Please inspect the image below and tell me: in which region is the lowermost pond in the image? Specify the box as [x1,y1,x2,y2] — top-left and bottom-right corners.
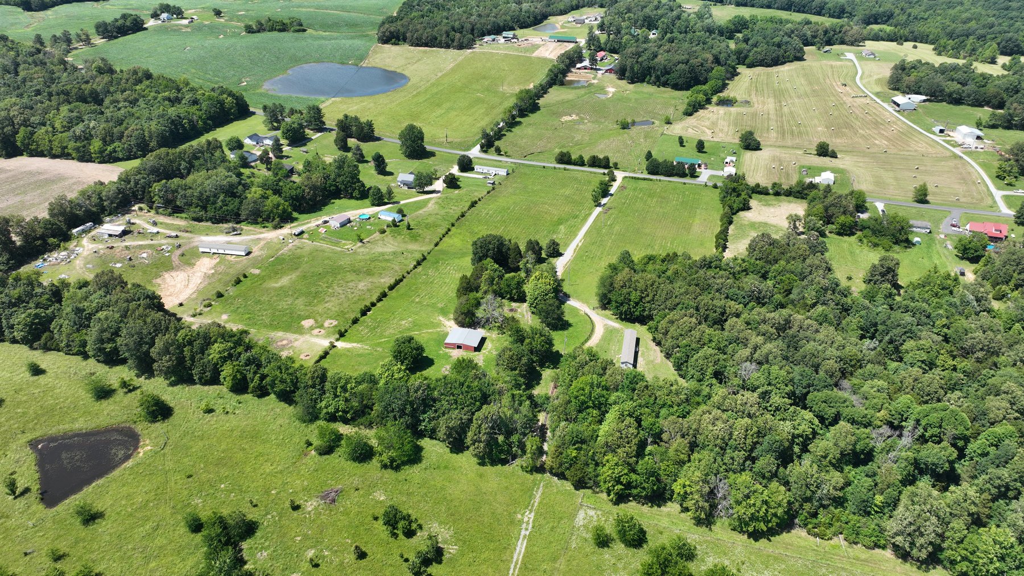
[29,426,141,509]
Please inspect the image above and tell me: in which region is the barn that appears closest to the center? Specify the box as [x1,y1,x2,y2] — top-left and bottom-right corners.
[442,324,483,352]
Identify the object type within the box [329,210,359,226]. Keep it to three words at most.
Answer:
building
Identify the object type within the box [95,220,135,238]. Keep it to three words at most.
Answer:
shed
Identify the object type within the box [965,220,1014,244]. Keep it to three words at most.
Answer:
house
